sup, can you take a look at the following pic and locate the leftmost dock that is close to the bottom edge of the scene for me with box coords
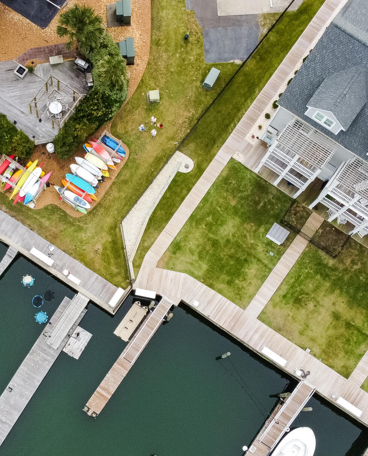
[0,297,87,446]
